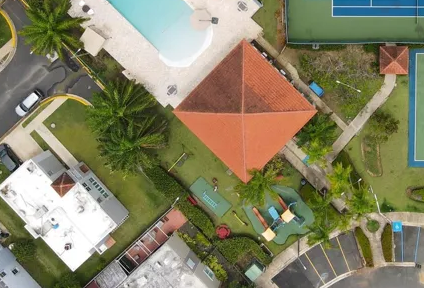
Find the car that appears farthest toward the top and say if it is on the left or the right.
left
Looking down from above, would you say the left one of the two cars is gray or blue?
gray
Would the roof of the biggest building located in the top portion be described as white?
No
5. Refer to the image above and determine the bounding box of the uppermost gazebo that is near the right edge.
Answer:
[378,46,409,74]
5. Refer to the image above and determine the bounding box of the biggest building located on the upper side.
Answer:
[173,39,316,181]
